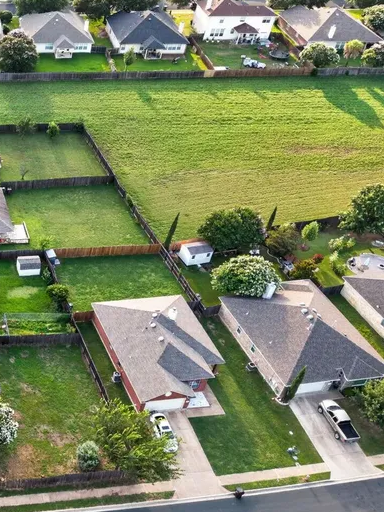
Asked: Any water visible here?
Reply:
No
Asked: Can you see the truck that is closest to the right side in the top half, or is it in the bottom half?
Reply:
bottom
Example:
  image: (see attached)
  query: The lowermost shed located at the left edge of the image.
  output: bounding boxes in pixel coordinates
[16,254,43,277]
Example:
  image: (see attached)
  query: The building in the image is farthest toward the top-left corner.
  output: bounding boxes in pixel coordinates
[25,10,93,58]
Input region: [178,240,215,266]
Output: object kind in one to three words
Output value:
shed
